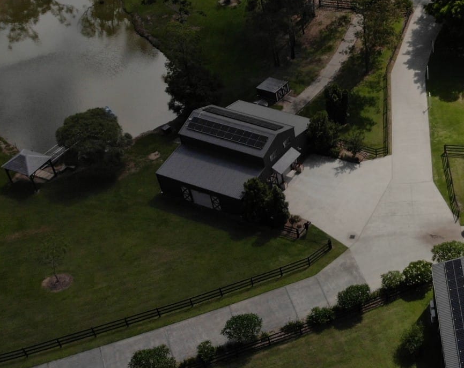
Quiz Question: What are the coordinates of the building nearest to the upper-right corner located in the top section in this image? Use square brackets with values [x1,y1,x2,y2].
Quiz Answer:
[256,76,289,106]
